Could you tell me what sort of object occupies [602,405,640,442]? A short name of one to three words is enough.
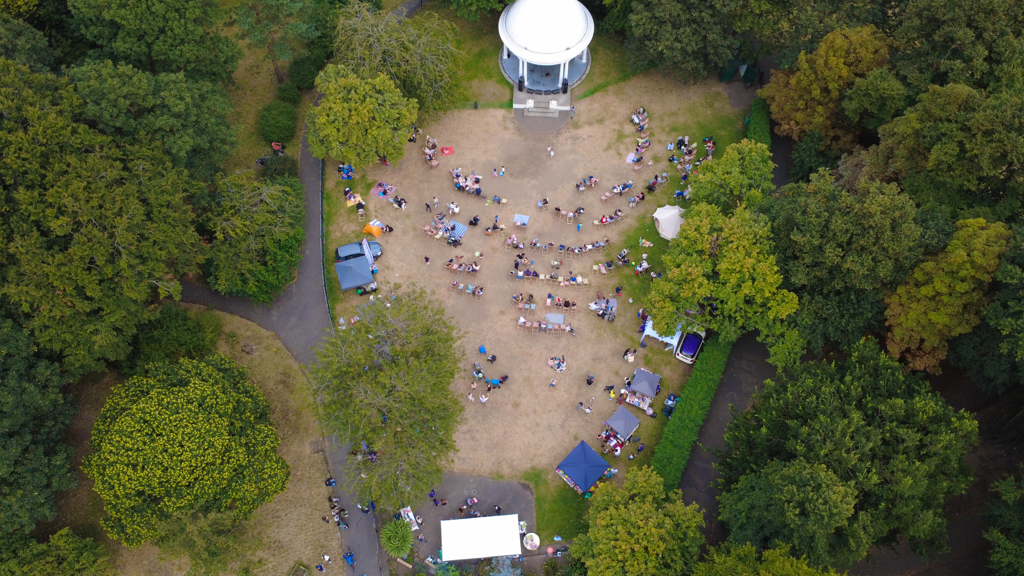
gazebo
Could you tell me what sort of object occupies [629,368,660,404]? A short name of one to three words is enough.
gazebo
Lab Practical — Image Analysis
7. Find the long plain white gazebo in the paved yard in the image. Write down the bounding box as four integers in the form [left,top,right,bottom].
[442,513,523,562]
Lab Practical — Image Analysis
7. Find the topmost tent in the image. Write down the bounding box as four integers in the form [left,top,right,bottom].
[641,201,693,250]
